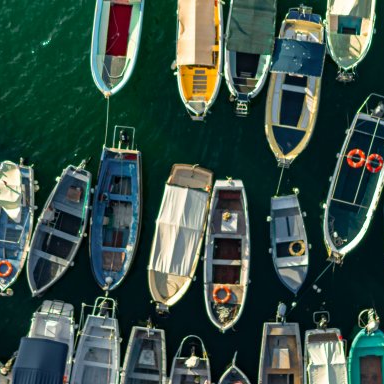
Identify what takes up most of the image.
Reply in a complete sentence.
The scene is dominated by water.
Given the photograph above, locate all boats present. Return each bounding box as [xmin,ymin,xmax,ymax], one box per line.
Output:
[203,180,251,336]
[324,95,384,262]
[172,336,212,384]
[326,0,376,79]
[121,310,170,384]
[174,0,222,123]
[67,296,120,384]
[225,0,276,115]
[305,307,348,384]
[87,0,143,101]
[11,301,79,384]
[345,309,384,384]
[87,126,142,295]
[262,0,327,167]
[0,151,35,296]
[269,194,310,296]
[259,307,304,384]
[147,163,213,313]
[221,365,249,384]
[27,154,93,297]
